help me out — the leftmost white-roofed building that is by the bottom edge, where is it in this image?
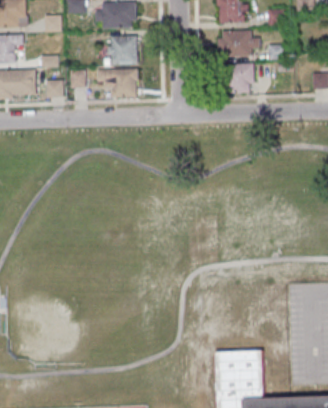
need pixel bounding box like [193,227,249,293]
[215,350,262,408]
